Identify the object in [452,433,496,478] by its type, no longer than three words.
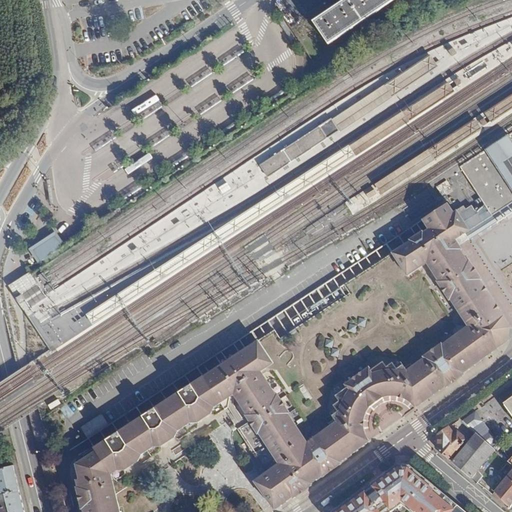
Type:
house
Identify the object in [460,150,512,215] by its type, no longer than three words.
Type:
building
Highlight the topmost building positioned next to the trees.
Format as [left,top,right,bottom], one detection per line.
[311,0,396,44]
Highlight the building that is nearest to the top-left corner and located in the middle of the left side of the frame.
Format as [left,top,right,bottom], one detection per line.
[28,231,62,262]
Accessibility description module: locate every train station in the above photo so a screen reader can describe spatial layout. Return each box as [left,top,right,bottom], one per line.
[8,16,512,352]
